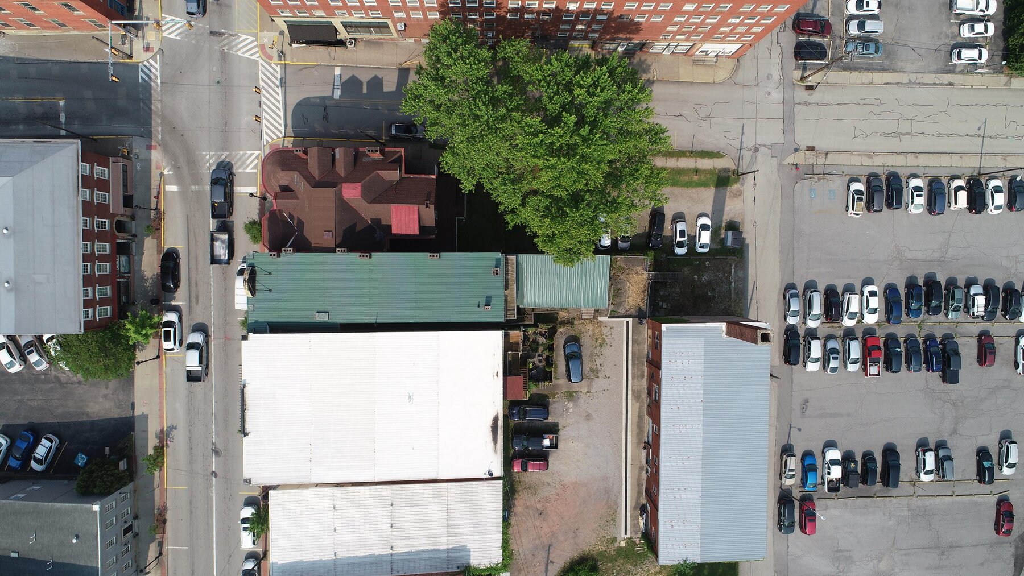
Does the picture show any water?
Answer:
No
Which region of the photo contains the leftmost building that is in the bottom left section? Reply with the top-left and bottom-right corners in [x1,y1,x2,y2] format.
[0,482,139,576]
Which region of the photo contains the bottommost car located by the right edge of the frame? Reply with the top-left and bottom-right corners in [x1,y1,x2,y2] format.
[991,498,1012,535]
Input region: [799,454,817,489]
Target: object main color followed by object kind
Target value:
blue car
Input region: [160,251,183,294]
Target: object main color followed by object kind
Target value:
black car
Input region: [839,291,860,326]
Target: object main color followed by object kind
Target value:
white car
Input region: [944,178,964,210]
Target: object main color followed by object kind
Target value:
white car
